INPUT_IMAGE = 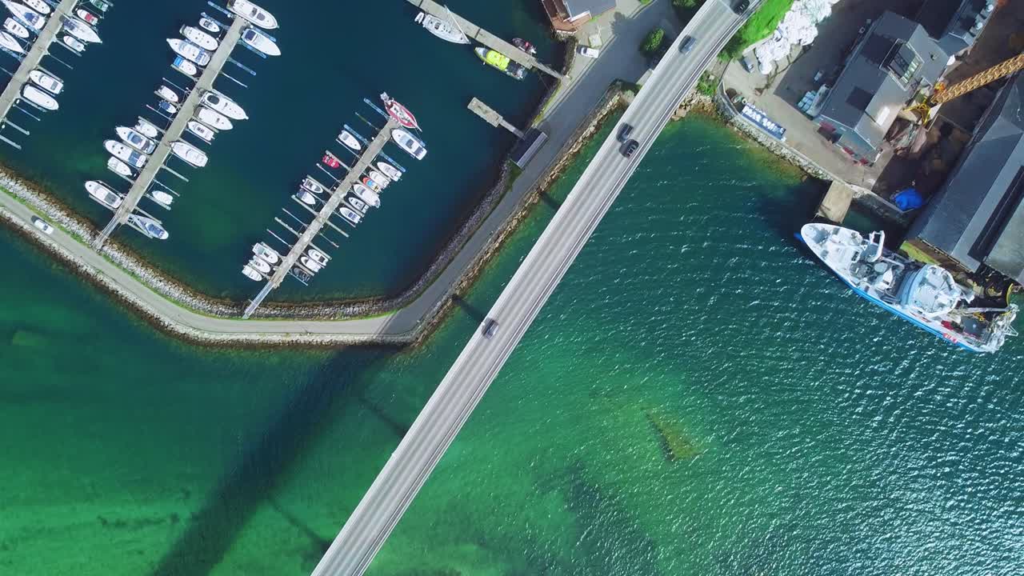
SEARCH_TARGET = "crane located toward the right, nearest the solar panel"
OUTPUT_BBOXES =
[900,50,1024,122]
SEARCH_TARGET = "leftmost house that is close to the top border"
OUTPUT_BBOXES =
[543,0,616,33]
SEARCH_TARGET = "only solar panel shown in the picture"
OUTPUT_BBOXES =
[845,86,874,110]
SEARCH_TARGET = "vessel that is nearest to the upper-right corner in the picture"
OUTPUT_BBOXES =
[794,215,1018,356]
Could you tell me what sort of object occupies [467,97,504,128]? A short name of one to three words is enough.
pier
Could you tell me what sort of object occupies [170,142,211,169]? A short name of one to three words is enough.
boat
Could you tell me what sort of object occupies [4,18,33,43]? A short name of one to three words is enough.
boat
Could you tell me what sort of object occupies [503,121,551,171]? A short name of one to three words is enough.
shed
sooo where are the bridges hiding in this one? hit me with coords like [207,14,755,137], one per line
[311,0,762,576]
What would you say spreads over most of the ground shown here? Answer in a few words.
water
